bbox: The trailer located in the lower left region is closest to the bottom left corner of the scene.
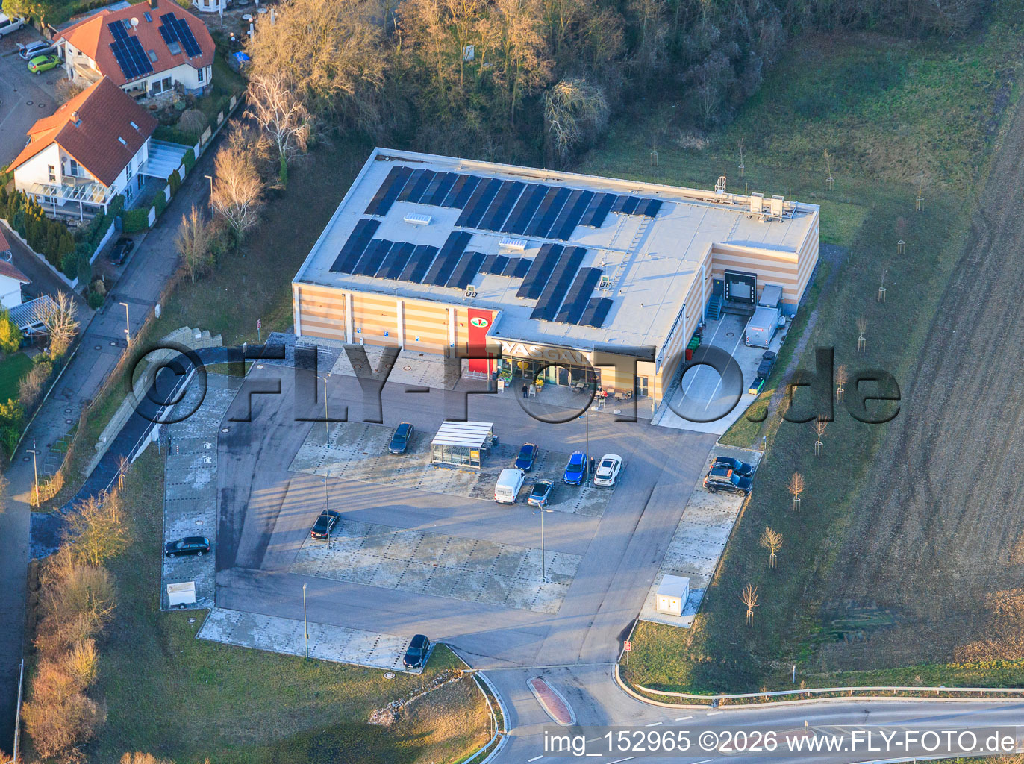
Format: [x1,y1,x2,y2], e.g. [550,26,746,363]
[166,578,209,607]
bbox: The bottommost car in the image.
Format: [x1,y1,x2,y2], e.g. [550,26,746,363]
[402,631,433,670]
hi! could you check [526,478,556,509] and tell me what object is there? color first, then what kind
blue car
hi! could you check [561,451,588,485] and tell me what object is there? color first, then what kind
blue car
